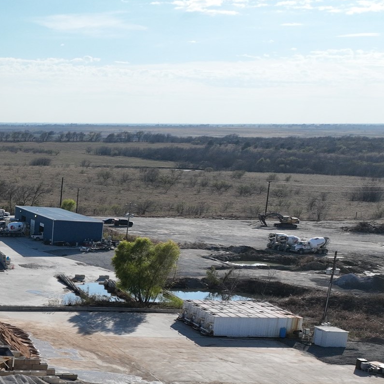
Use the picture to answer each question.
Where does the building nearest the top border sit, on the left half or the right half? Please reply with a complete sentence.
The building nearest the top border appears in the left half of the scene.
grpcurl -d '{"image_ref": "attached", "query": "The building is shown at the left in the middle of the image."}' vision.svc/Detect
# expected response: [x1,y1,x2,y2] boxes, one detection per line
[13,204,108,245]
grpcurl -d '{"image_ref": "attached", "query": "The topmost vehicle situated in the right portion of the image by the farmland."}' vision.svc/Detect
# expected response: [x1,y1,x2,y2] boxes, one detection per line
[259,211,301,228]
